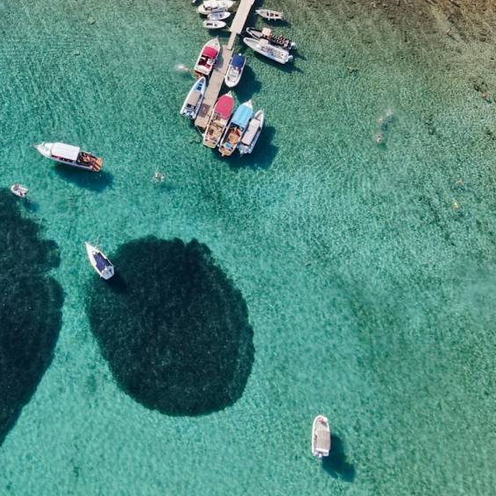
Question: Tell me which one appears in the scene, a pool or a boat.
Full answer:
Looking from above, you can make out a boat.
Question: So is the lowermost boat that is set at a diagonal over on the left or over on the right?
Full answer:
It is on the left.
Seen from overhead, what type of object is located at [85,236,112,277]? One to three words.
boat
